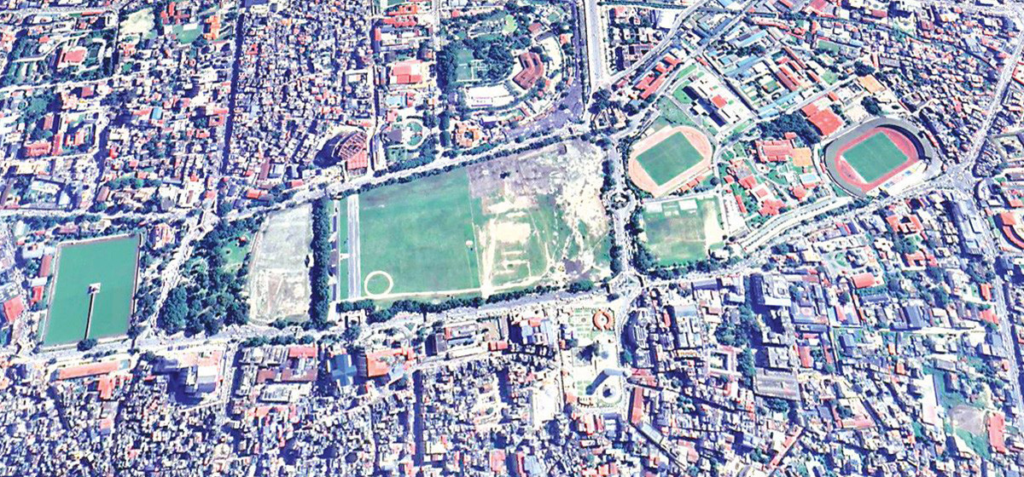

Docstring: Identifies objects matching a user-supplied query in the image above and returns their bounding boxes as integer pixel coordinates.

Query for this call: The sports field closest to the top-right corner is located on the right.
[842,131,907,182]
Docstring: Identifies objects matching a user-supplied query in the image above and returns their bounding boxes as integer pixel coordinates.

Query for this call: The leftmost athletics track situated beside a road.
[627,123,716,193]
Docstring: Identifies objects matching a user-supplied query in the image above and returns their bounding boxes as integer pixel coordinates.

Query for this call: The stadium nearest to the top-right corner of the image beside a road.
[819,114,939,202]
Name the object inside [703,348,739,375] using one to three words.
house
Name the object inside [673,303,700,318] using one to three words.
building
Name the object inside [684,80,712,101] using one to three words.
building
